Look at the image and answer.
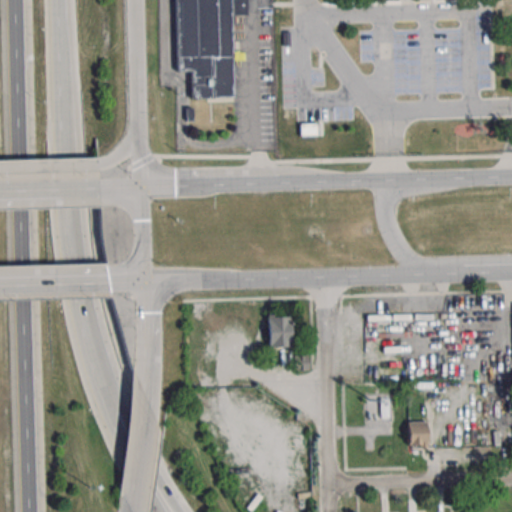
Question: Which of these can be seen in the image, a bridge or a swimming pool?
bridge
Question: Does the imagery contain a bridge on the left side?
Yes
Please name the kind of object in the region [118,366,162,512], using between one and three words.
bridge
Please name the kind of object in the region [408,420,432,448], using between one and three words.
house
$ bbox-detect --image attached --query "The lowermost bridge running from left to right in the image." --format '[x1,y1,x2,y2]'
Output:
[0,263,112,300]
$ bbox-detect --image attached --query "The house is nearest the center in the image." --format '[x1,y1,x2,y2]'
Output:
[268,316,296,348]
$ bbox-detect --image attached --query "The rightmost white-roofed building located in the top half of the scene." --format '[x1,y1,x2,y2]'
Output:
[300,122,325,138]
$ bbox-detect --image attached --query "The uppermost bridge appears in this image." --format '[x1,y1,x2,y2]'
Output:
[0,156,108,210]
